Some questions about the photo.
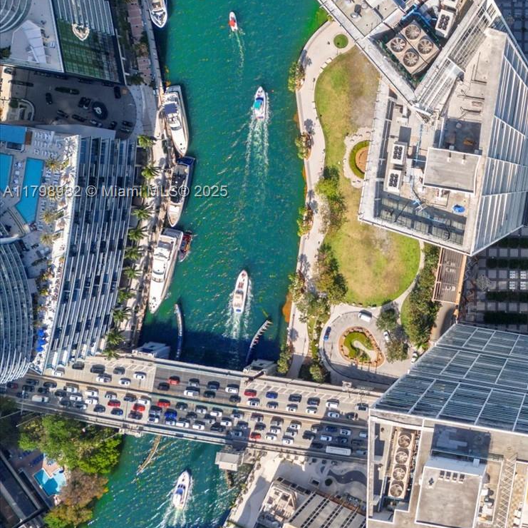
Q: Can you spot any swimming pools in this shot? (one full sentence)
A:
Yes, a swimming pool appears in the view.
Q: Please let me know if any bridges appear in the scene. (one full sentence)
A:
Yes, looking at the shot, I can spot a bridge.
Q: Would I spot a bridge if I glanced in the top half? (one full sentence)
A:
No, I can find no bridge in the top half.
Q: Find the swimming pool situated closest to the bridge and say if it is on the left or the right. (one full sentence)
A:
The swimming pool situated closest to the bridge is on the left side of the image.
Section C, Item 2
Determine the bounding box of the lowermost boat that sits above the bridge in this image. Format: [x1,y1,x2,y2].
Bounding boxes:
[233,271,248,314]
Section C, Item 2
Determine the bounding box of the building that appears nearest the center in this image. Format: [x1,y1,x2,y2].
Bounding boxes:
[242,354,280,377]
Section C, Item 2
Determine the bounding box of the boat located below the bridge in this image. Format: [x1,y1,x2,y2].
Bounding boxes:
[173,470,192,510]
